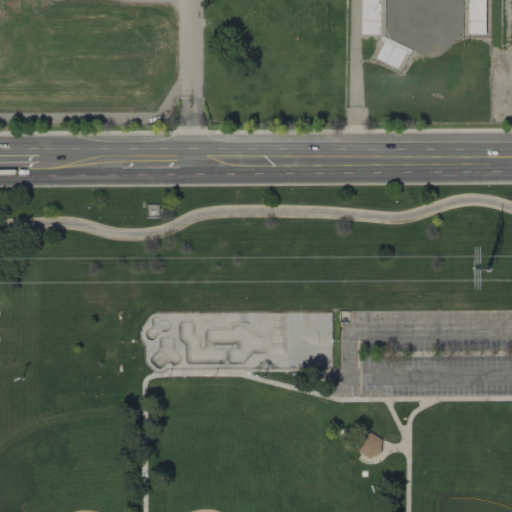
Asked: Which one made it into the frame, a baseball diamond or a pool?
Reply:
baseball diamond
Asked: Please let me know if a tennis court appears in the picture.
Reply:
No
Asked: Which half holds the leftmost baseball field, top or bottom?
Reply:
bottom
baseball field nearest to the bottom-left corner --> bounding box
[0,408,141,512]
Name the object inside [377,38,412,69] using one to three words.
shed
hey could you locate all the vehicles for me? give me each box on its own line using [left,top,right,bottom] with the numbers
[386,144,396,149]
[148,115,161,123]
[0,143,10,148]
[0,169,31,176]
[309,146,320,151]
[56,155,66,160]
[488,150,500,156]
